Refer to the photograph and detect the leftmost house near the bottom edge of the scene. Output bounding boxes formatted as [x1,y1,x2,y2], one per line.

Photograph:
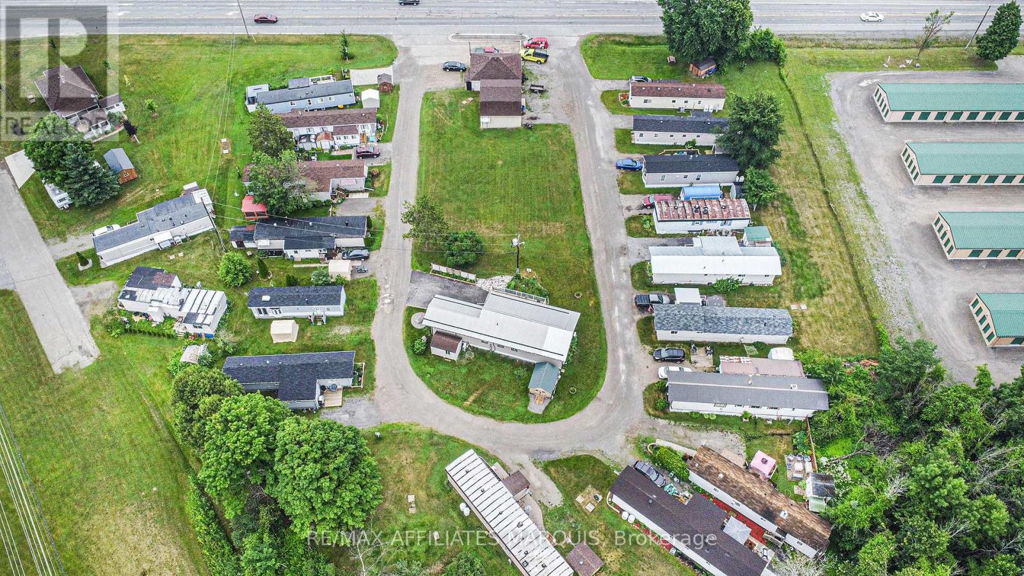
[445,449,573,576]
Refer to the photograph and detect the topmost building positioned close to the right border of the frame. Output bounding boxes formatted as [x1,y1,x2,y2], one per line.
[873,81,1024,122]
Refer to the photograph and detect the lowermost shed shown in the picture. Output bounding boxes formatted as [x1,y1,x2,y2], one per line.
[568,533,616,576]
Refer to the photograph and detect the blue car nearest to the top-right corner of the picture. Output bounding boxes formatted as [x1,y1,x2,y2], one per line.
[616,159,643,172]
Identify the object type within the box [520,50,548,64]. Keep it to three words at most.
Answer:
vehicle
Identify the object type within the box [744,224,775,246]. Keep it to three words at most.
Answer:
shed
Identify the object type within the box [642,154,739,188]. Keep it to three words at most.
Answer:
house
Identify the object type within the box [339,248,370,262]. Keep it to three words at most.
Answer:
car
